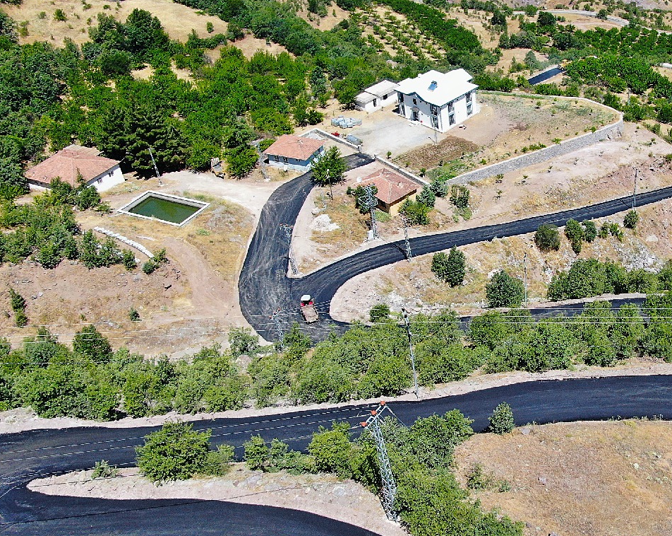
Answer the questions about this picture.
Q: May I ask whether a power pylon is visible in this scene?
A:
Yes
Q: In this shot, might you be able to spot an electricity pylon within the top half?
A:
No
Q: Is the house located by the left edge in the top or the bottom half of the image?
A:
top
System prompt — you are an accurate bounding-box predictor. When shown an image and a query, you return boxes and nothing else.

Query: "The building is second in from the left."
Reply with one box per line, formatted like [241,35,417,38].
[264,133,326,172]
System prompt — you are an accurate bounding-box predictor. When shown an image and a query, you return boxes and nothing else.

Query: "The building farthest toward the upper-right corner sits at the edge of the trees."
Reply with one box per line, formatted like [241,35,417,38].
[396,69,477,129]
